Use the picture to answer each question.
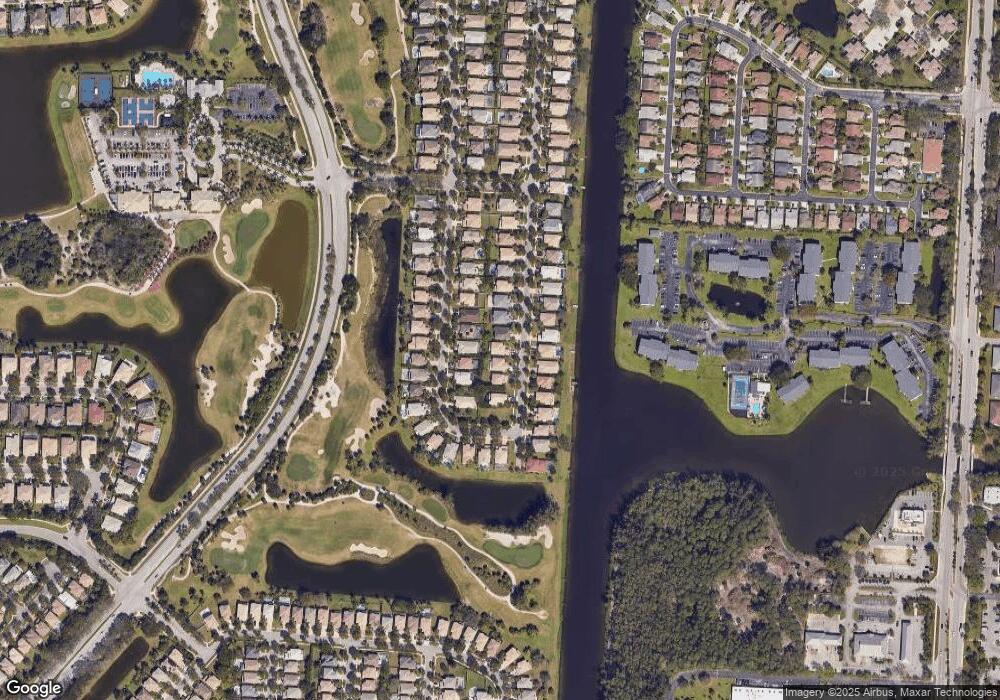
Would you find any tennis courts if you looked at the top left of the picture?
Yes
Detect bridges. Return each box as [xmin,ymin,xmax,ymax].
[942,453,974,477]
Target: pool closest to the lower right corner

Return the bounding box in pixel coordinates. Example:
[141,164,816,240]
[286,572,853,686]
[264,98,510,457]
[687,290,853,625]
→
[750,393,770,418]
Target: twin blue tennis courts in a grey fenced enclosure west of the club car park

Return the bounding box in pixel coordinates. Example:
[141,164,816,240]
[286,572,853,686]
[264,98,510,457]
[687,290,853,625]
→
[79,73,112,106]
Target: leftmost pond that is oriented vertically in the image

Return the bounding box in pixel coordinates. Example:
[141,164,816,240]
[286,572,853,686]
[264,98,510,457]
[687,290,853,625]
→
[250,201,308,331]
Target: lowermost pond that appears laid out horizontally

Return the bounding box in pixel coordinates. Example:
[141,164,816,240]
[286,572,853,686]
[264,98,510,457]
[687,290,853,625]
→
[265,542,459,602]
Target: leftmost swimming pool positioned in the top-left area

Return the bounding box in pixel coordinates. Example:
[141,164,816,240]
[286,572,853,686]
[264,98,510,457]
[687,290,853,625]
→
[135,62,184,90]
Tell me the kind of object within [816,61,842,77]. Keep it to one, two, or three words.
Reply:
swimming pool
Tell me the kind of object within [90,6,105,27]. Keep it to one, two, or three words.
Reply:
house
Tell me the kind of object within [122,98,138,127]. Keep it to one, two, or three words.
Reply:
basketball court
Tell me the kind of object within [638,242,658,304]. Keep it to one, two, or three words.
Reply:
building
